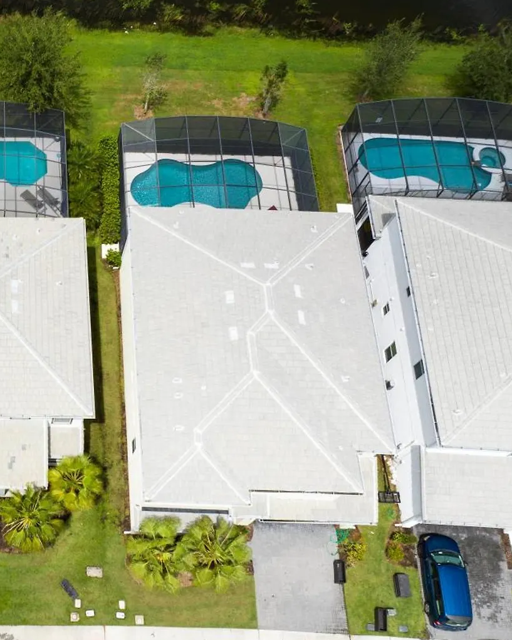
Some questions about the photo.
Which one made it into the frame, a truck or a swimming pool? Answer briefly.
swimming pool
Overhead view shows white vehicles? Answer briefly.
No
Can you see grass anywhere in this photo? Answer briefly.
Yes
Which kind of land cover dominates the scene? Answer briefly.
buildings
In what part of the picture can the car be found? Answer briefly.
bottom right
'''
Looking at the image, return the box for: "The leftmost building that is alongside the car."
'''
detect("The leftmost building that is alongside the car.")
[121,206,397,546]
